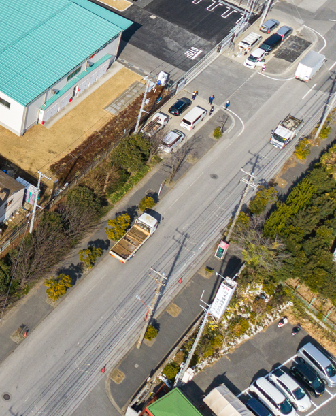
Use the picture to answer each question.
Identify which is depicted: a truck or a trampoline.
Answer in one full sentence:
There is a truck in the scene.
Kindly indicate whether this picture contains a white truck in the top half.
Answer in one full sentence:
Yes, looking in the top half, one can make out a white truck.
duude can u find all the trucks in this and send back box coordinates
[268,114,305,149]
[103,209,163,267]
[291,48,329,82]
[140,110,171,142]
